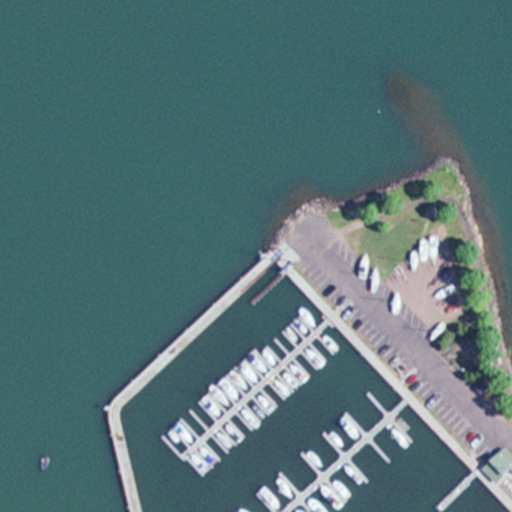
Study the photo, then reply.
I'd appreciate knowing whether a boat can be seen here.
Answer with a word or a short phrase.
Yes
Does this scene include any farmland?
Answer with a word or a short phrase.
No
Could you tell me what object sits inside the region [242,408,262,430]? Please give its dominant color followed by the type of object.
white boat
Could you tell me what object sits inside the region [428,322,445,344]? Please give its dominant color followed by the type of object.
white boat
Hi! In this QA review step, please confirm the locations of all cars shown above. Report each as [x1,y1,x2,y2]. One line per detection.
[412,378,423,389]
[380,343,392,354]
[390,354,402,366]
[428,394,440,406]
[354,316,366,327]
[334,296,345,306]
[343,304,355,316]
[406,372,418,384]
[470,437,483,450]
[464,434,476,444]
[324,284,336,296]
